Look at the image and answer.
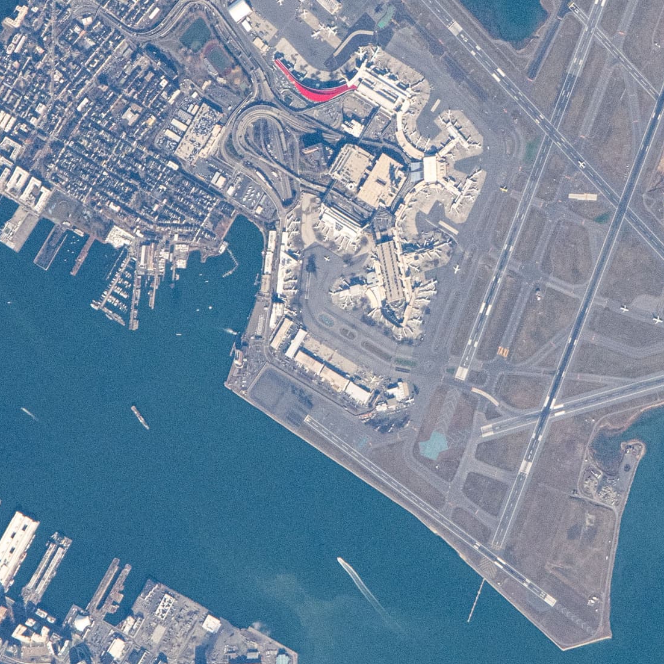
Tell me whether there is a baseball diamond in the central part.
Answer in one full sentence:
No, I see no baseball diamond in the central part.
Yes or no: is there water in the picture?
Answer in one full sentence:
Yes, there is water in the image.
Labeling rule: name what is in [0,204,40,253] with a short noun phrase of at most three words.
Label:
pier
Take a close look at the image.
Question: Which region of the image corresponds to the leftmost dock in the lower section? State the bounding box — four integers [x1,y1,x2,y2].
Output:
[21,533,71,602]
